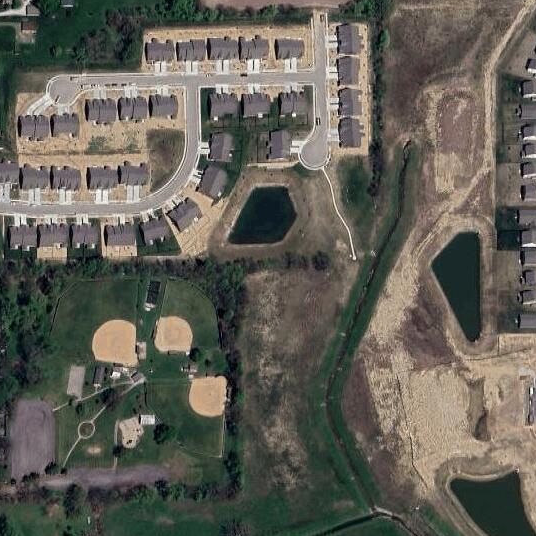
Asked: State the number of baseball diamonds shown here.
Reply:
3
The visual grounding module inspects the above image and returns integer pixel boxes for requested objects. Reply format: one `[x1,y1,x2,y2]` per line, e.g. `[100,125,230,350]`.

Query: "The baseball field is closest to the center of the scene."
[153,278,223,355]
